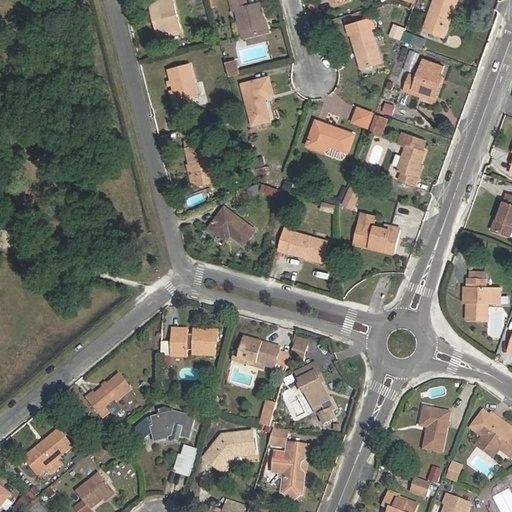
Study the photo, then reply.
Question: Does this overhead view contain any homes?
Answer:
Yes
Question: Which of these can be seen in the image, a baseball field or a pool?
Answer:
pool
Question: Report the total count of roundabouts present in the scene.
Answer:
1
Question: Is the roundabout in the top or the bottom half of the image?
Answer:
bottom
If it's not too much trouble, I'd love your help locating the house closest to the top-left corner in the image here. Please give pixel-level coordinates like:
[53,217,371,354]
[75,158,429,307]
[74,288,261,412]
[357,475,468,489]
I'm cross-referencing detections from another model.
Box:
[149,0,184,38]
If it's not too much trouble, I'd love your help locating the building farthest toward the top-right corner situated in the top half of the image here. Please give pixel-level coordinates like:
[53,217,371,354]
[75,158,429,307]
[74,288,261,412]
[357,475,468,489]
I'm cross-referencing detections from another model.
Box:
[421,0,458,42]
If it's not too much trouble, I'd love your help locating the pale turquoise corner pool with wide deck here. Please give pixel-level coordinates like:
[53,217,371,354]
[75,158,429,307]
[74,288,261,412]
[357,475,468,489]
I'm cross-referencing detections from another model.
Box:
[471,456,495,474]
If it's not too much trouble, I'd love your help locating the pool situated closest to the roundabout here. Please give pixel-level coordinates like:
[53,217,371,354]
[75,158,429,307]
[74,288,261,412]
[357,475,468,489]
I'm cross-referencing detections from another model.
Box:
[420,386,448,400]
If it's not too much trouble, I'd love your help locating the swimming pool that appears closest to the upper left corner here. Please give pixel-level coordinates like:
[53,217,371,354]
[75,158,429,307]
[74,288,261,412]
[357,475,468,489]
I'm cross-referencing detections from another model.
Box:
[237,40,270,64]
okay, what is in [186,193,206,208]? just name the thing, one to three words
swimming pool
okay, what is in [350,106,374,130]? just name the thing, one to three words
building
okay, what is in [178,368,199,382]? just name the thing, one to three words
swimming pool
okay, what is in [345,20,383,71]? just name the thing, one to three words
house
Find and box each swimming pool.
[231,370,253,386]
[471,456,495,474]
[186,193,206,208]
[178,368,199,382]
[290,398,305,416]
[237,40,270,64]
[420,386,448,400]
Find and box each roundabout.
[368,308,437,382]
